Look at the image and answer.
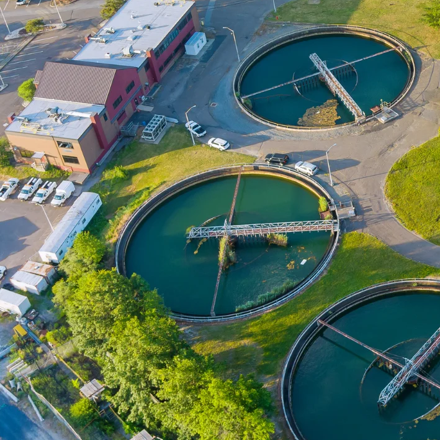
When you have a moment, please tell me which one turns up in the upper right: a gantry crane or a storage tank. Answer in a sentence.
Looking in the upper right, you will find a storage tank.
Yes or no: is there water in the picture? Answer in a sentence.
Yes, some water is visible.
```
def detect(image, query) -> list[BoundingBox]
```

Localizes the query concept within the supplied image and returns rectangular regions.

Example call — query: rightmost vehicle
[290,156,321,175]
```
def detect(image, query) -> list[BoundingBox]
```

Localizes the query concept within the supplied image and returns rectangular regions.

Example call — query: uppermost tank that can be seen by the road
[234,22,414,132]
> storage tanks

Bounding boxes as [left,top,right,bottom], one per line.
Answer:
[234,22,414,132]
[115,162,359,321]
[283,276,440,440]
